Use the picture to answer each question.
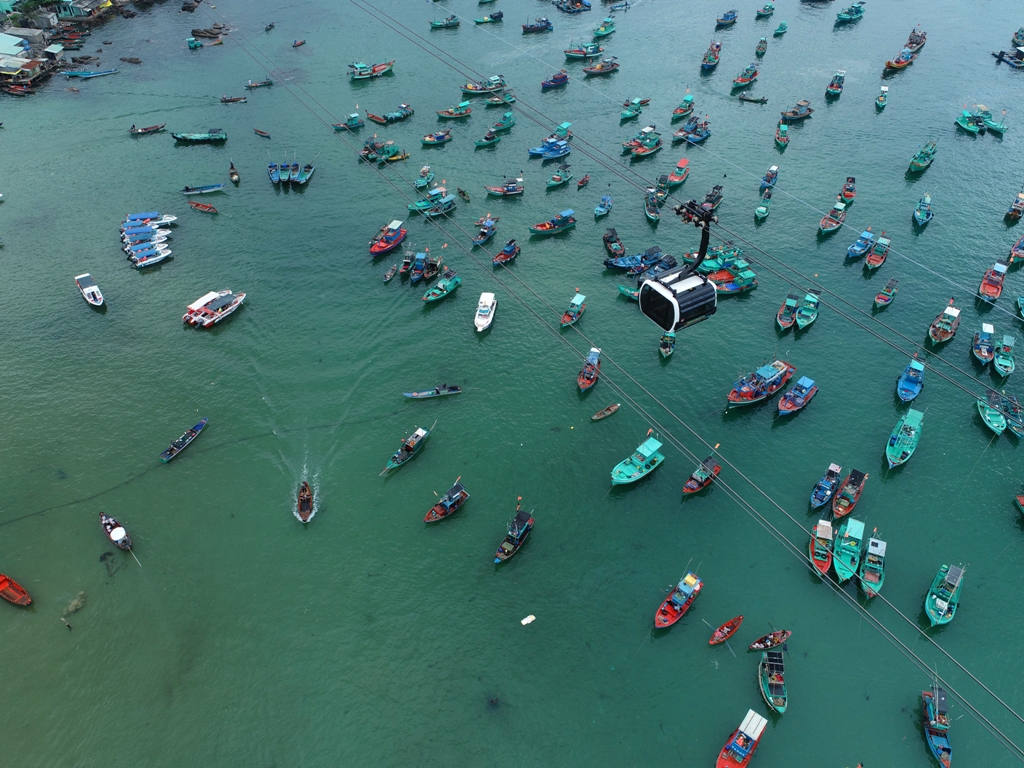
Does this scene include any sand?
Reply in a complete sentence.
No, there is no sand in the image.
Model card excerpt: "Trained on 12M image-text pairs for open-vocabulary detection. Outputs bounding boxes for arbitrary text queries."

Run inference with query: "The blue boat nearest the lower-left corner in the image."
[148,419,208,462]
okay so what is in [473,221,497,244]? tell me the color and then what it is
blue boat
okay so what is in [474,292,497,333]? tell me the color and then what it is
white boat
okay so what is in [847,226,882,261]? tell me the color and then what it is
blue boat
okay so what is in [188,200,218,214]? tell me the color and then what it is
red boat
